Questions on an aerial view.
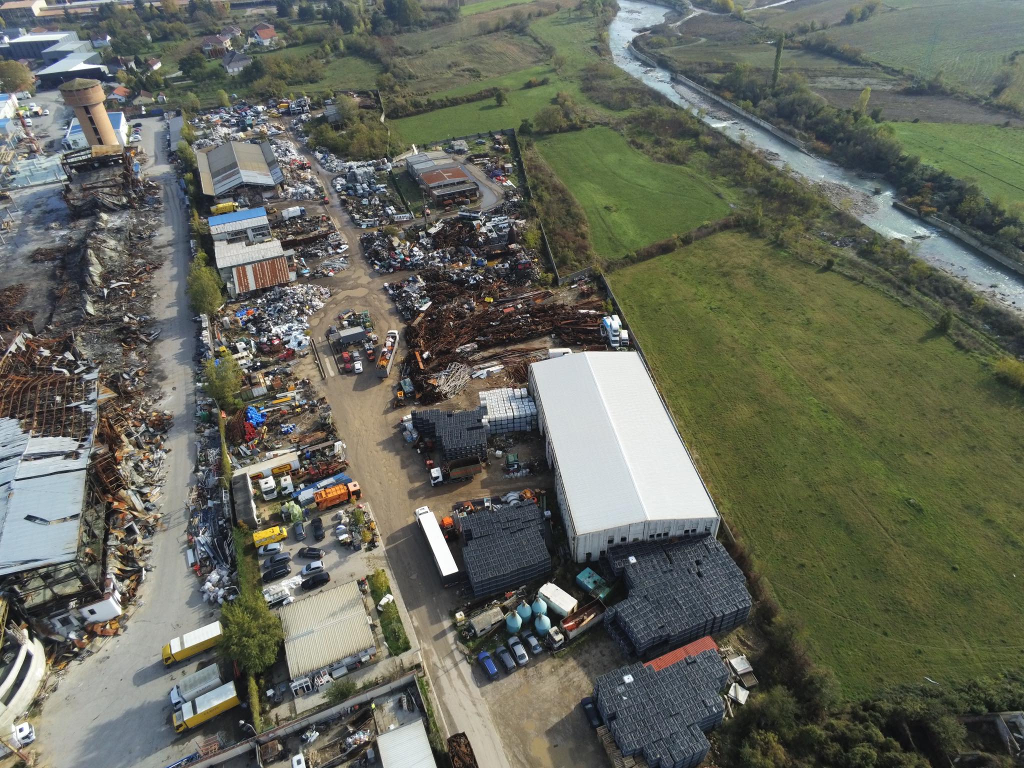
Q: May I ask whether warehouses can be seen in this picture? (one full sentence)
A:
Yes, there's a warehouse here.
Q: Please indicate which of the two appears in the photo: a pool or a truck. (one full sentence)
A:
I can see a truck in this picture.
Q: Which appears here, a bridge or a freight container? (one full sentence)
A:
I can see a freight container in this picture.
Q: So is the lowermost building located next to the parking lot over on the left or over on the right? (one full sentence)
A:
The lowermost building located next to the parking lot appears in the left half of the scene.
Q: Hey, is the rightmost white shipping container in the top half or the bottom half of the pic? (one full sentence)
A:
The rightmost white shipping container is in the bottom half of the image.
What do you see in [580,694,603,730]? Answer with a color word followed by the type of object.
black car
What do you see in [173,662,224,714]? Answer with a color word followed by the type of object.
gray truck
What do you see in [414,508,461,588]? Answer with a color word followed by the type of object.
white truck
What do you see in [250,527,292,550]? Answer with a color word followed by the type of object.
yellow vehicle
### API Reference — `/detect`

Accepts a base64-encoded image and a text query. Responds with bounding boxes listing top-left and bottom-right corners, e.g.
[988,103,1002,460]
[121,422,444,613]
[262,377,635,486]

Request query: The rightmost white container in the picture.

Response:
[541,583,580,620]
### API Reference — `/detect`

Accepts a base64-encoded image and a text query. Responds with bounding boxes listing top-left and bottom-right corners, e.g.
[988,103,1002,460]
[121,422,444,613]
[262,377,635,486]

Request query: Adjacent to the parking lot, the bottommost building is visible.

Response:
[277,579,386,689]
